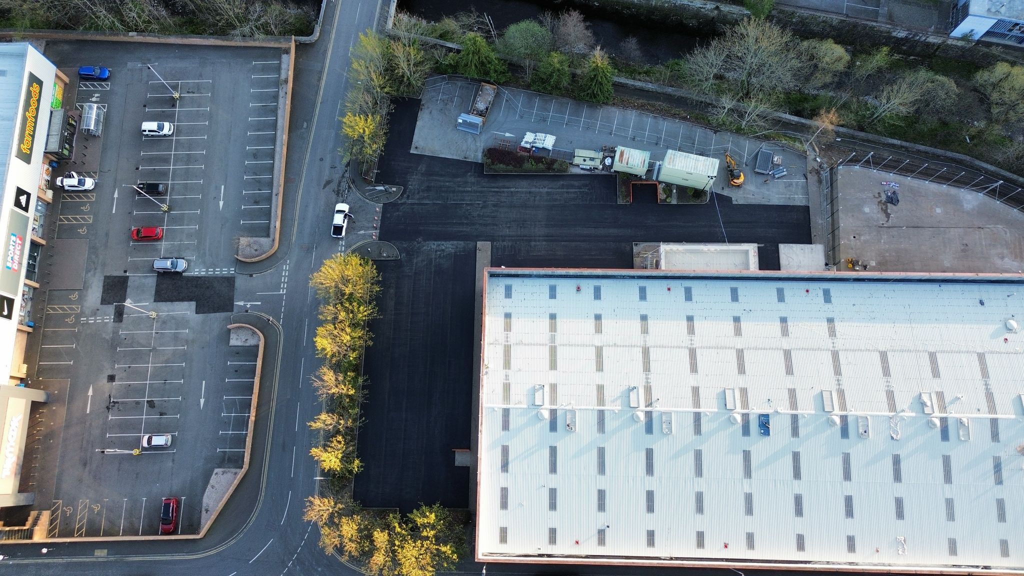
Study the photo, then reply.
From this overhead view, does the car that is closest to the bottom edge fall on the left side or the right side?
left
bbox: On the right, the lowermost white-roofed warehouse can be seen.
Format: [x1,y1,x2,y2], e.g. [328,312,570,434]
[476,268,1024,564]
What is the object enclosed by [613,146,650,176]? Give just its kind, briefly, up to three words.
building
